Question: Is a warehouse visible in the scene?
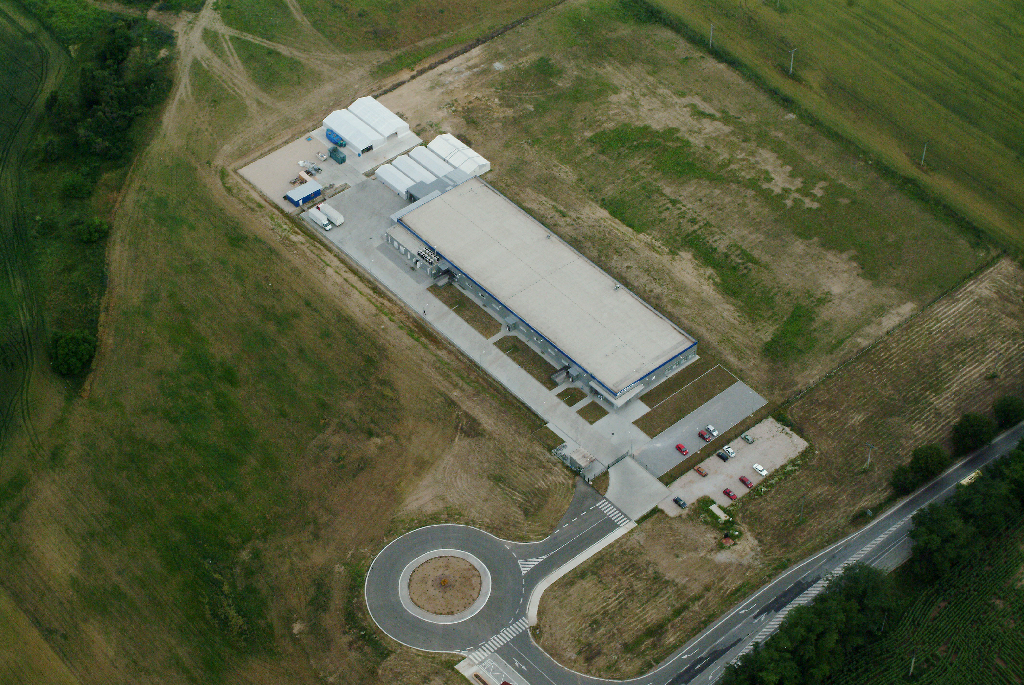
Yes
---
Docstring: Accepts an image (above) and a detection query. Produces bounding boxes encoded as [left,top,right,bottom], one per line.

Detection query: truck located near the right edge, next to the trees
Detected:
[959,466,988,492]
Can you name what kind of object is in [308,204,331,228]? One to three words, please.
truck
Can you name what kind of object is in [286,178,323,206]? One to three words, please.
building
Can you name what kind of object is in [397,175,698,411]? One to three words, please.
warehouse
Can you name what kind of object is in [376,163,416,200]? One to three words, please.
tent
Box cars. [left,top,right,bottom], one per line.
[722,489,737,500]
[738,476,753,488]
[706,424,718,435]
[675,444,688,455]
[752,464,768,476]
[693,467,707,477]
[716,452,729,463]
[722,447,737,458]
[696,429,711,442]
[672,497,687,509]
[740,434,754,445]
